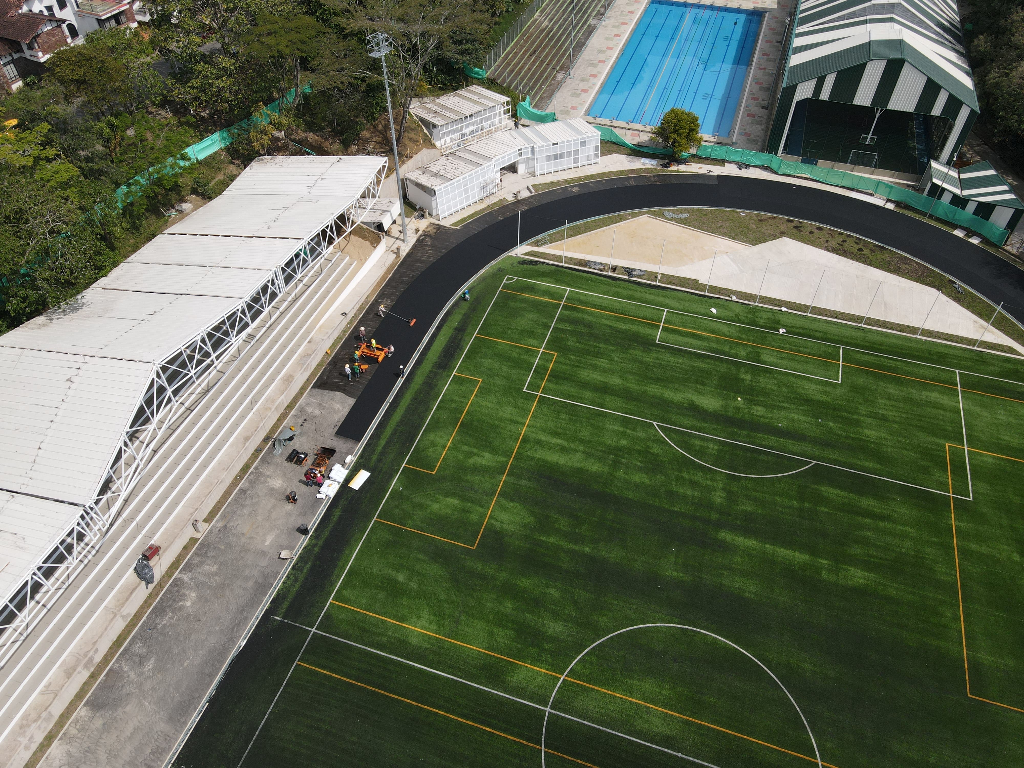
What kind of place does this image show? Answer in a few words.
sports ground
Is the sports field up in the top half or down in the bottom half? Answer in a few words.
bottom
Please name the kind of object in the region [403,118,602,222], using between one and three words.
building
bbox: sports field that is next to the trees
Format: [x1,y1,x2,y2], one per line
[170,255,1024,768]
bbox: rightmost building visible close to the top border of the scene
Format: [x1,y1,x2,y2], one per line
[764,0,982,183]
